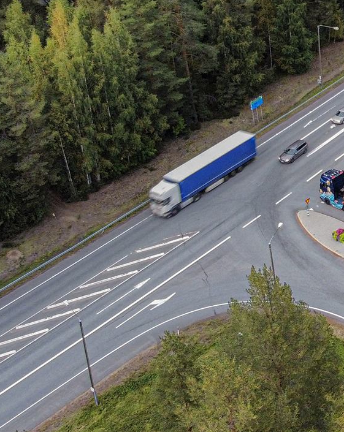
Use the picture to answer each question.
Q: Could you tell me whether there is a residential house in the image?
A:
No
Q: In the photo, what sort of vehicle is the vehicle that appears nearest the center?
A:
truck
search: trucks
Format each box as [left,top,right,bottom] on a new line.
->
[152,131,258,218]
[319,167,344,209]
